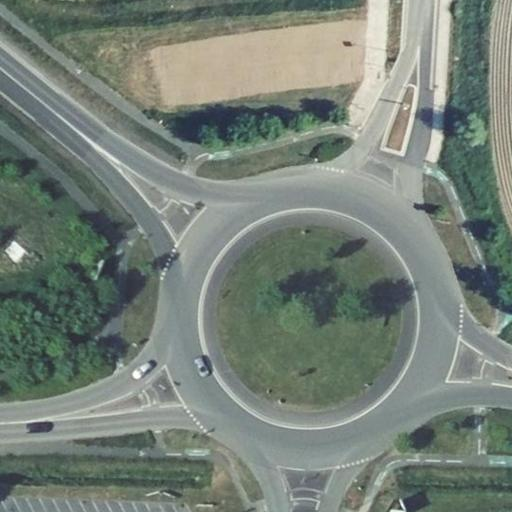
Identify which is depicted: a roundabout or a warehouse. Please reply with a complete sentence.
I can see a roundabout in this picture.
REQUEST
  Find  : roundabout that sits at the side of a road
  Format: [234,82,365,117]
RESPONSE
[158,166,462,471]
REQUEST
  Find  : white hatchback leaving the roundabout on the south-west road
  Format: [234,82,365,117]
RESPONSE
[131,362,154,380]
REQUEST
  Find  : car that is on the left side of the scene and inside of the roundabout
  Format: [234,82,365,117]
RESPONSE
[194,356,209,378]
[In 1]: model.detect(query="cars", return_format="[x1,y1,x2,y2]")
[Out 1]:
[194,356,209,378]
[27,422,54,432]
[131,362,154,380]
